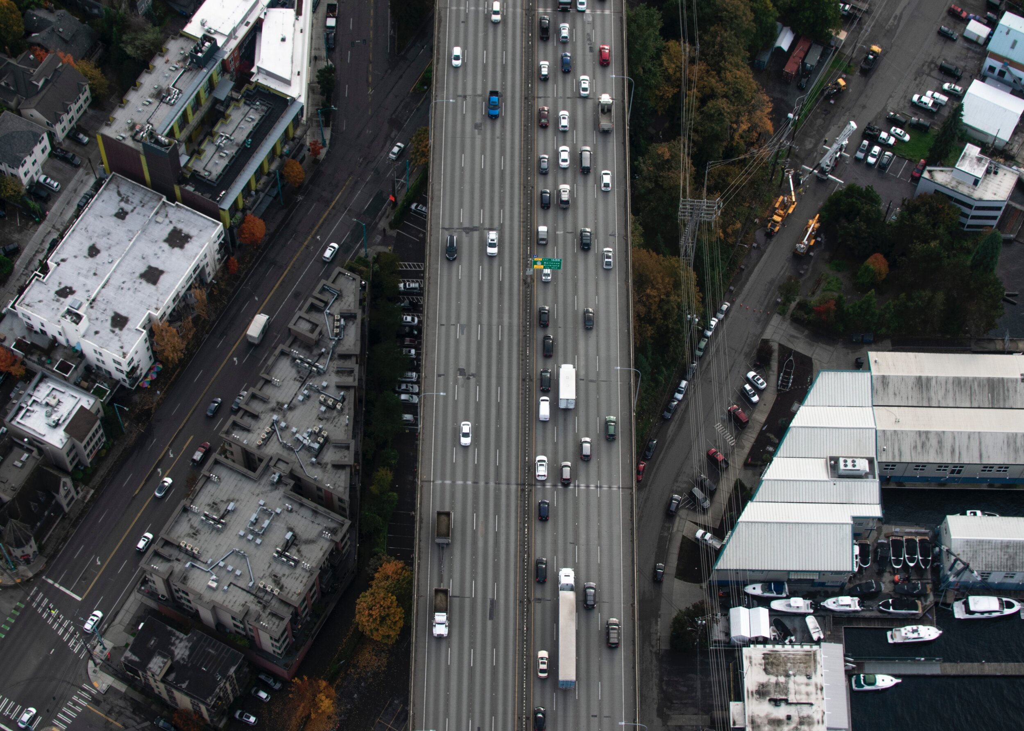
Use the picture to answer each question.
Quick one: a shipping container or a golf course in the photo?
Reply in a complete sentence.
It is a shipping container that can be seen here.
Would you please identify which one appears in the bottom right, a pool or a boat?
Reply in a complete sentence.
There is a boat in the bottom right.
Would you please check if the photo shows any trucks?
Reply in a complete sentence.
Yes, the photo shows a truck.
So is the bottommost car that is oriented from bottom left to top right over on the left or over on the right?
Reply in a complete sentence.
The bottommost car that is oriented from bottom left to top right appears in the left half of the scene.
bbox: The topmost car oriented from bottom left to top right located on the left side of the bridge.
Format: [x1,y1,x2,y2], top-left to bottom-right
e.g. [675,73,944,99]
[388,143,405,162]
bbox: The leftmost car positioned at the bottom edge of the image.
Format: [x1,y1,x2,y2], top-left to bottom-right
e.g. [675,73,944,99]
[16,706,38,731]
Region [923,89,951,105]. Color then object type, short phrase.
white vehicle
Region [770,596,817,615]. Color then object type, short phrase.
white boat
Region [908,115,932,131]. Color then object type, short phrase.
black car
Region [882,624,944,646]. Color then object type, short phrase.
white boat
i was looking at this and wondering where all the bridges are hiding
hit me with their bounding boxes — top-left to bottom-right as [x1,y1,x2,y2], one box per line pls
[407,0,641,731]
